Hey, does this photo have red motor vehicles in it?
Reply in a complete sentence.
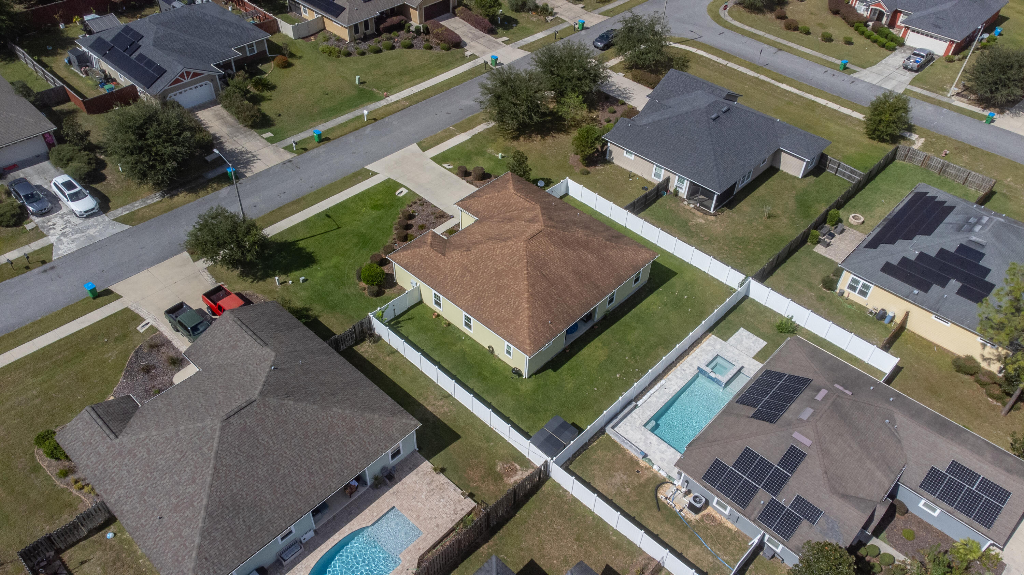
Yes, there's a red motor vehicle down there.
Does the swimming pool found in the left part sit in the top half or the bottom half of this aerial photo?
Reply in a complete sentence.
The swimming pool found in the left part sits in the bottom half of the picture.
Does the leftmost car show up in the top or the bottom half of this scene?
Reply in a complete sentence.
The leftmost car is in the top half of the image.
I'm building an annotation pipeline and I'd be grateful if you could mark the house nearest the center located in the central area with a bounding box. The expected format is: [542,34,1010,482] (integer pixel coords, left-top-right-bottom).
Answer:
[386,170,660,379]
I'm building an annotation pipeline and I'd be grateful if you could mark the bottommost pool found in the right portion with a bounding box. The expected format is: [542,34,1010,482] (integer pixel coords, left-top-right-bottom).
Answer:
[644,369,753,454]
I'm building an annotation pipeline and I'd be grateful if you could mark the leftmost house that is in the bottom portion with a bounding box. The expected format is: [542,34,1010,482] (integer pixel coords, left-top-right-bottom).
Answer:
[55,299,422,575]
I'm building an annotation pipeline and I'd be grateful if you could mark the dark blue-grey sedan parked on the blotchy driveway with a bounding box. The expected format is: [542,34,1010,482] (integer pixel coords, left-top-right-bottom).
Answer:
[5,181,46,214]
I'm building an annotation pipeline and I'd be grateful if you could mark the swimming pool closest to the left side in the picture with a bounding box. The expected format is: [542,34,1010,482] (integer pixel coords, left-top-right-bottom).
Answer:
[308,506,423,575]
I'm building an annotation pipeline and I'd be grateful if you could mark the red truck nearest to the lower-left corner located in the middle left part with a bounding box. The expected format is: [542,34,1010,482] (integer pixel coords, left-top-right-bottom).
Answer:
[202,287,245,318]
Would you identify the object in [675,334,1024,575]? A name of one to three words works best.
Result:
house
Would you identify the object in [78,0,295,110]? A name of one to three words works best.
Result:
house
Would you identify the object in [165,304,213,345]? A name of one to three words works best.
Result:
truck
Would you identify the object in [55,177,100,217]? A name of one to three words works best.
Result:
car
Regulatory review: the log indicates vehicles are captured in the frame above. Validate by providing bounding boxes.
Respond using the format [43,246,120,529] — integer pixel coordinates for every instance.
[55,177,100,217]
[5,181,46,214]
[165,304,213,345]
[202,287,245,318]
[904,42,938,69]
[595,22,625,46]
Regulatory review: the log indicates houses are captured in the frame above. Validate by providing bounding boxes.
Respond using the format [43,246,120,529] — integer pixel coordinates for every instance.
[78,0,295,110]
[834,182,1024,380]
[55,299,422,575]
[386,170,660,379]
[278,0,454,46]
[849,0,1010,62]
[0,74,61,176]
[601,68,832,216]
[675,334,1024,575]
